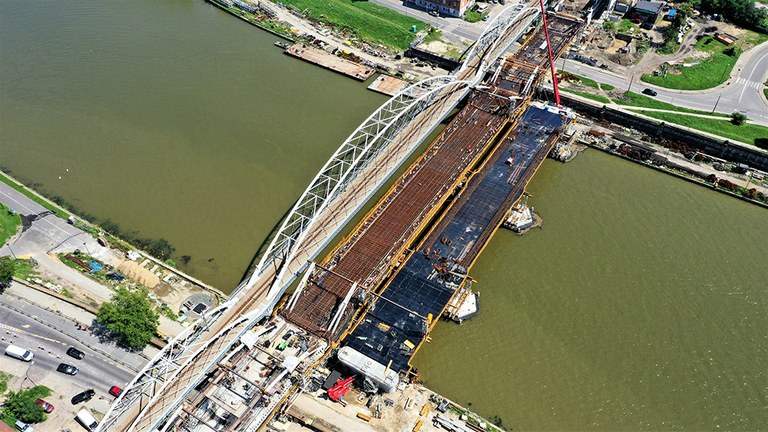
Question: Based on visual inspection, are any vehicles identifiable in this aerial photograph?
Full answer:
Yes, the photo shows a vehicle.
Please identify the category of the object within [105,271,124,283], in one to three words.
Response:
vehicle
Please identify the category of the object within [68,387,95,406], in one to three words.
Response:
car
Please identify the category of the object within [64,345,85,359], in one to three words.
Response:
car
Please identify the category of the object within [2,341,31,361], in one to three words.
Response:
vehicle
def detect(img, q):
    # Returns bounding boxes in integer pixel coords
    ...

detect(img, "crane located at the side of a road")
[532,0,578,117]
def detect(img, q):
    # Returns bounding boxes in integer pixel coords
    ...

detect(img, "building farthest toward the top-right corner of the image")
[633,1,664,22]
